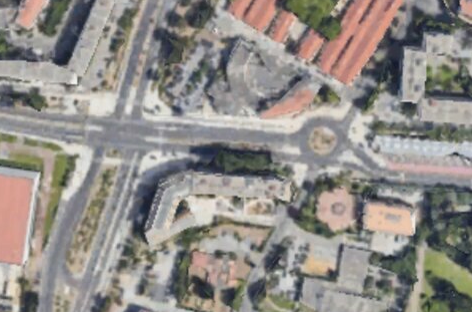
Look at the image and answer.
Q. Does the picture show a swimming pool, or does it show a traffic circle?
traffic circle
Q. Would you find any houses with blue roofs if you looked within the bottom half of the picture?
No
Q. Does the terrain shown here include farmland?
No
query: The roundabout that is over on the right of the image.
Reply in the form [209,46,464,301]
[296,113,350,167]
